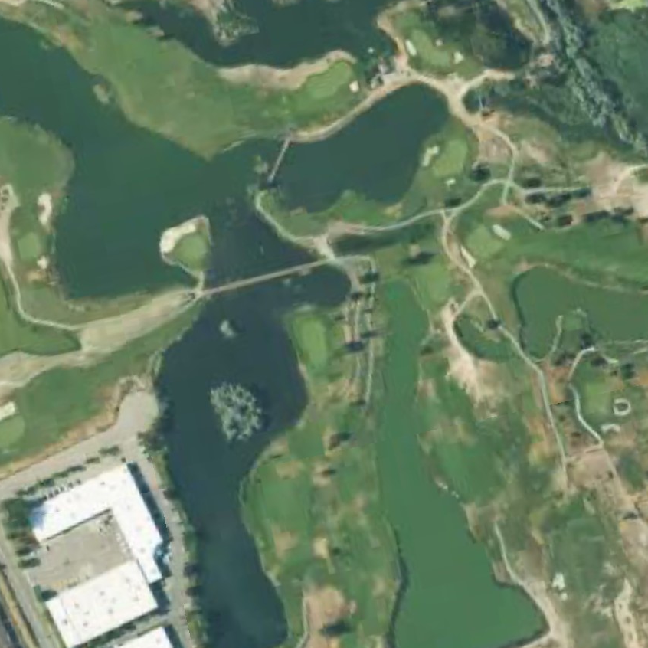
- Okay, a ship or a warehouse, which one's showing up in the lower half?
warehouse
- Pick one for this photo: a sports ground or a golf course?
golf course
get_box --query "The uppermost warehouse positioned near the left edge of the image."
[31,465,162,583]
